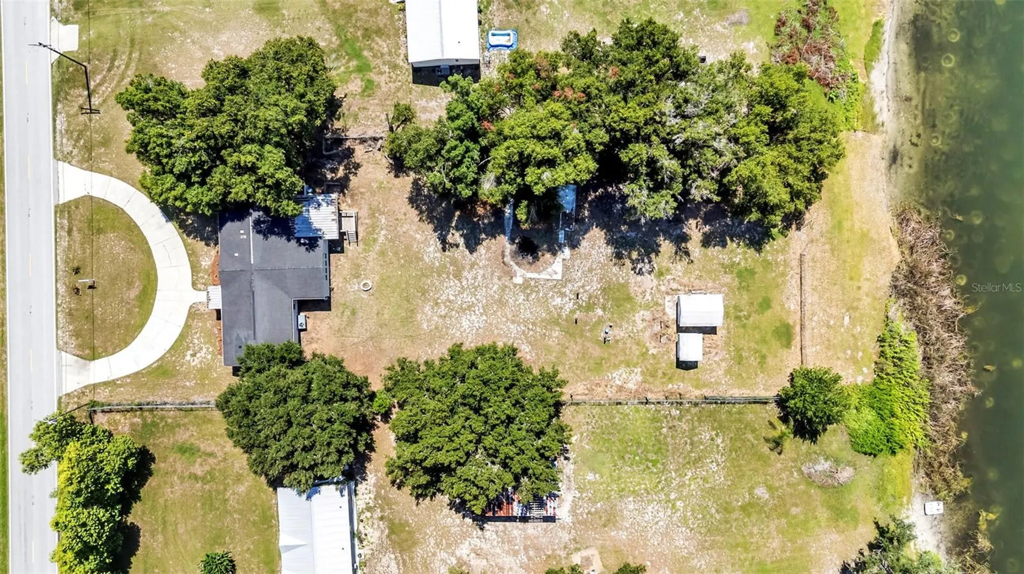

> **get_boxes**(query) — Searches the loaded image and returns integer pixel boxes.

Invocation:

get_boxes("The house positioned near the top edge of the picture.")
[408,0,479,68]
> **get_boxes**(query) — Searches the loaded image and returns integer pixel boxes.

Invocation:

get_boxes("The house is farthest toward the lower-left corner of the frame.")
[278,476,356,574]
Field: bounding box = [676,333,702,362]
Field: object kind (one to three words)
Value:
shed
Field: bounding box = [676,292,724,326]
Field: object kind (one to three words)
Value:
shed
